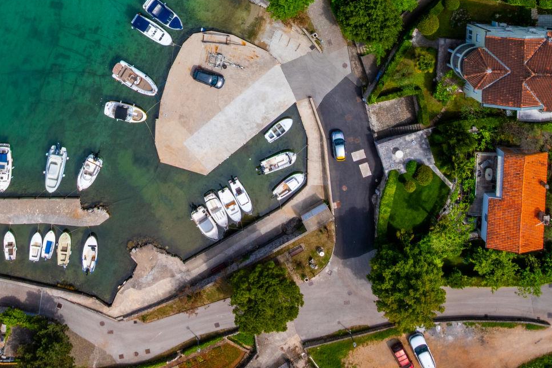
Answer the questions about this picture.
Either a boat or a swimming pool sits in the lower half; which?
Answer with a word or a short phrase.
boat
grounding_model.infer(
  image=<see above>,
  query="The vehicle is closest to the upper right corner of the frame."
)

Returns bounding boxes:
[331,128,347,162]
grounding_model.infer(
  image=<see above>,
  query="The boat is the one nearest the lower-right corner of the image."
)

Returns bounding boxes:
[270,174,305,199]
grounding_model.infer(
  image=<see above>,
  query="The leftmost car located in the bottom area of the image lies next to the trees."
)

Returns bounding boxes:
[388,337,411,368]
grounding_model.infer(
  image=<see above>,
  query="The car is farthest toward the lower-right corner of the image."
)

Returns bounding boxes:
[410,332,436,368]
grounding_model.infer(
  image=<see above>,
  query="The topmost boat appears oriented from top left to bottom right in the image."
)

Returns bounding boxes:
[146,0,182,30]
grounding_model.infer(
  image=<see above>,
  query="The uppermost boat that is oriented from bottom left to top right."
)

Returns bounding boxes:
[264,119,293,144]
